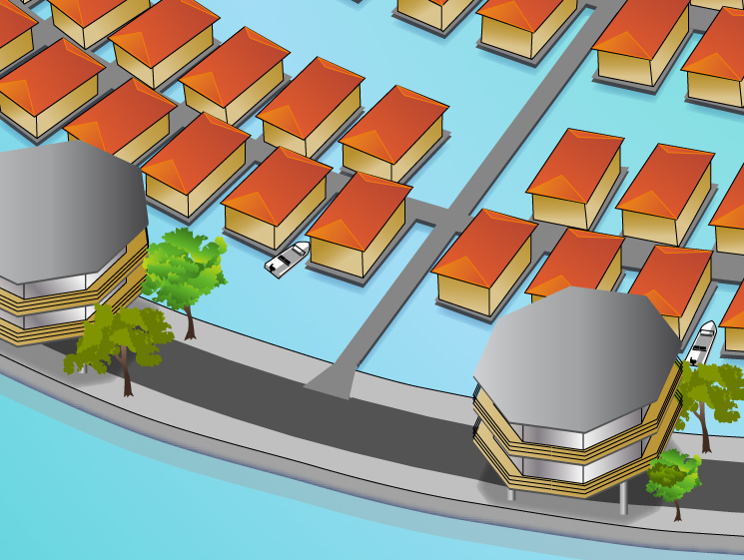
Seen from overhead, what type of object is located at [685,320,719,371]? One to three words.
boat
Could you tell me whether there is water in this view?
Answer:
Yes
